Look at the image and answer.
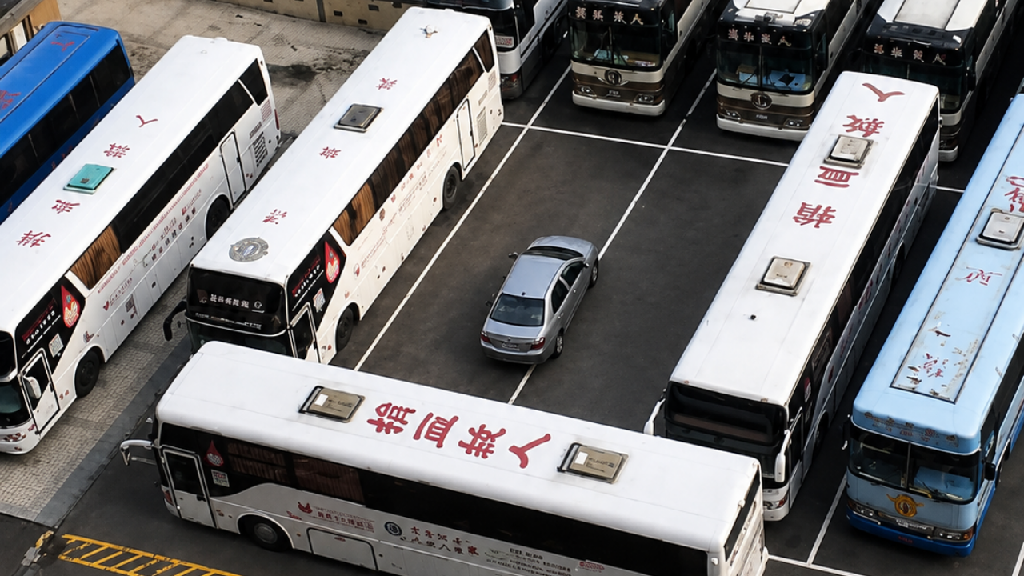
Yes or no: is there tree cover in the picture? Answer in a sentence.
No, the picture contains no tree cover.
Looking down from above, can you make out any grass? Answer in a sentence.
No, grass can't be seen anywhere here.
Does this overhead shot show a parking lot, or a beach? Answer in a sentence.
This looks like a parking lot.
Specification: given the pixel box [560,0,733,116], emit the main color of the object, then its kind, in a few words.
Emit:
black bus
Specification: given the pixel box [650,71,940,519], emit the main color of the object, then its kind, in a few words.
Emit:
white bus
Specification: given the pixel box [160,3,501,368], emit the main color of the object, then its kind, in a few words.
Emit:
white bus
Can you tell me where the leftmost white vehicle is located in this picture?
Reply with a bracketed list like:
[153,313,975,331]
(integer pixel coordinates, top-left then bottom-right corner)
[0,32,280,443]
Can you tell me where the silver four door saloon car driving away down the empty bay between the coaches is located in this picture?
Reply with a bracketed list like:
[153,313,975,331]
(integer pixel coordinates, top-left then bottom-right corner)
[477,235,595,367]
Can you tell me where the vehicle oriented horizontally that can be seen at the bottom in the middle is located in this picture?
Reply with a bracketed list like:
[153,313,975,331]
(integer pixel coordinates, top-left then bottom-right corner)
[123,345,767,576]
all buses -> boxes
[436,0,549,92]
[854,0,1021,159]
[560,0,733,116]
[831,101,1024,549]
[705,0,884,137]
[650,71,940,519]
[0,20,138,233]
[160,3,501,368]
[123,345,767,576]
[0,32,280,443]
